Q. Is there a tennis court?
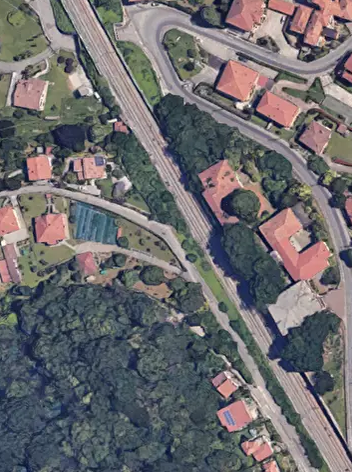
Yes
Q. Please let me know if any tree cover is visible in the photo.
Yes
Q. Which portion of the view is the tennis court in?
left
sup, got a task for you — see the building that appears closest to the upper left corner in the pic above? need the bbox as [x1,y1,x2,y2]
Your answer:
[14,78,49,110]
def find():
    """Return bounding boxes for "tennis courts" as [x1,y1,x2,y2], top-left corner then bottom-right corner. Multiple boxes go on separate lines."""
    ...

[74,202,117,245]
